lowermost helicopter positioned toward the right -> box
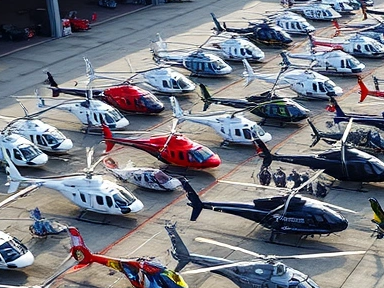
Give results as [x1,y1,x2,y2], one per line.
[160,232,364,288]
